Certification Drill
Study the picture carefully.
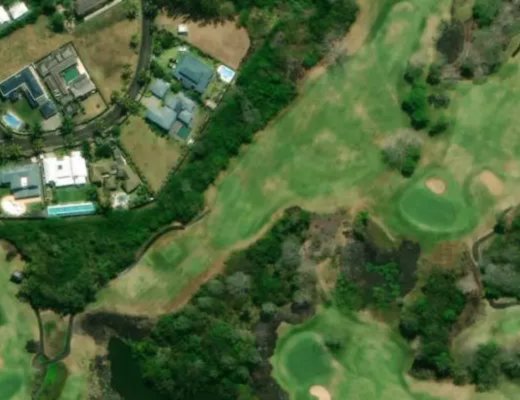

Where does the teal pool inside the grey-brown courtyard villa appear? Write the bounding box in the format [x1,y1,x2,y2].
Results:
[61,67,80,84]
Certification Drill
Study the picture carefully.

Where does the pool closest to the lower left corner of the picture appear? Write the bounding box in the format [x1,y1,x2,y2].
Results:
[48,201,95,216]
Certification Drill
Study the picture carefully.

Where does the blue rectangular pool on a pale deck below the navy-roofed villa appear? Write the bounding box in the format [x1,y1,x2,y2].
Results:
[2,112,24,130]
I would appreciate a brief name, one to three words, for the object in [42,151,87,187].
house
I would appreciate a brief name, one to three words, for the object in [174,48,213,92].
house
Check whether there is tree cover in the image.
Yes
